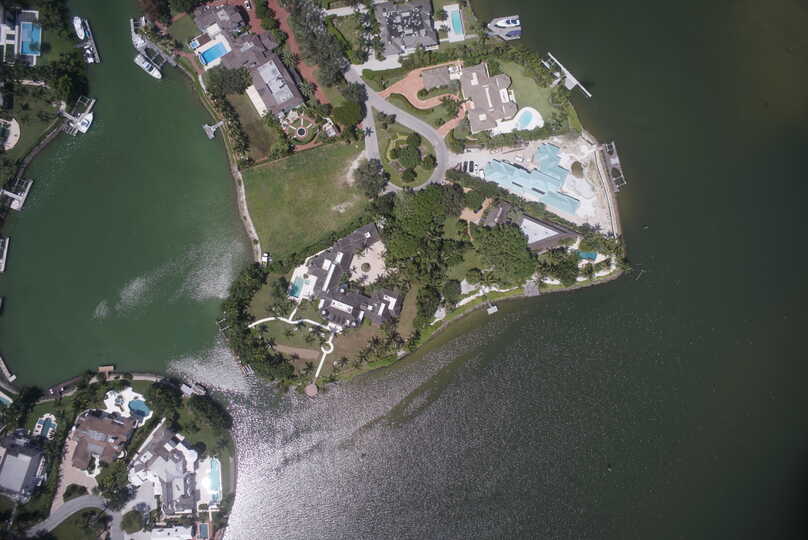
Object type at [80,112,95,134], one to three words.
boat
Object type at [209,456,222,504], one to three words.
swimming pool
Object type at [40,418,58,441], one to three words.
swimming pool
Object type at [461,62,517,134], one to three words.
house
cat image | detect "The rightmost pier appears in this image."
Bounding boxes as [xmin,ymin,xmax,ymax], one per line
[600,141,627,194]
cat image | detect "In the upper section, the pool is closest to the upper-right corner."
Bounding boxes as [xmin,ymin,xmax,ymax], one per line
[518,110,533,129]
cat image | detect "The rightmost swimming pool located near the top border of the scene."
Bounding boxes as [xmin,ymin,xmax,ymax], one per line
[450,9,465,35]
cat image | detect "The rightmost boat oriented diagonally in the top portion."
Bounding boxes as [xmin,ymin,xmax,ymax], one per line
[133,52,162,79]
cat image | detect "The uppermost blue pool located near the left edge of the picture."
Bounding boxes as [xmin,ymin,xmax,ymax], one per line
[21,22,41,55]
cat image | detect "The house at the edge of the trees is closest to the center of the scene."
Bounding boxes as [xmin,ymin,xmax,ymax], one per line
[307,223,402,327]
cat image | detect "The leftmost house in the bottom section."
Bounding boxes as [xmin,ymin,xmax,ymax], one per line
[0,429,45,497]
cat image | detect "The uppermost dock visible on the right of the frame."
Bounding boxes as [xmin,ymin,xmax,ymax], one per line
[487,14,522,40]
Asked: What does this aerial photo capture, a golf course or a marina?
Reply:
marina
